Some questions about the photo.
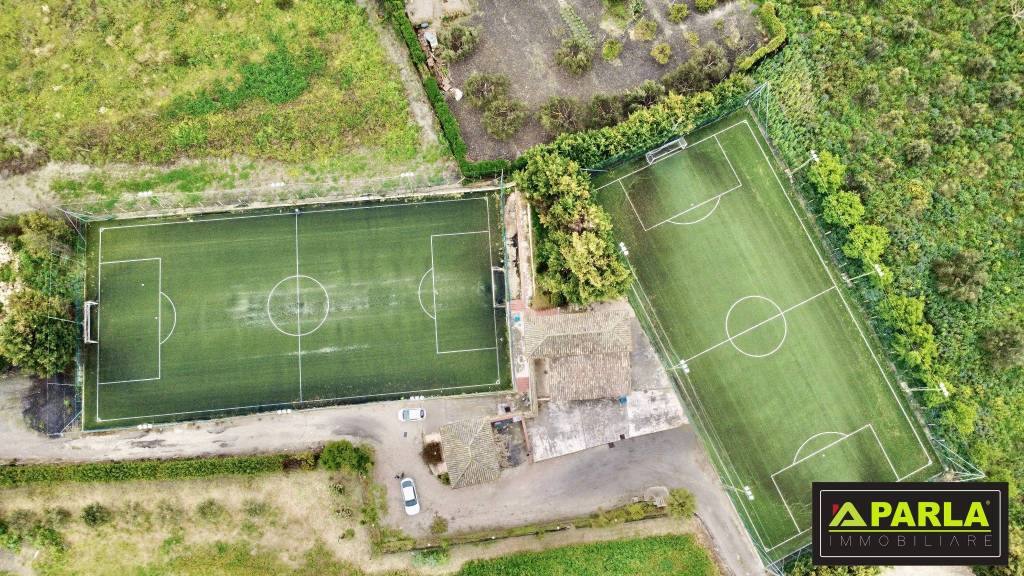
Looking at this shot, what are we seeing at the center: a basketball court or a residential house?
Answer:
residential house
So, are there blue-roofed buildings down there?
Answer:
No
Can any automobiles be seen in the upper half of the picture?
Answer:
No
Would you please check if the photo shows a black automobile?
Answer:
No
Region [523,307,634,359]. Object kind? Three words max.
house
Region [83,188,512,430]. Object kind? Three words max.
soccer field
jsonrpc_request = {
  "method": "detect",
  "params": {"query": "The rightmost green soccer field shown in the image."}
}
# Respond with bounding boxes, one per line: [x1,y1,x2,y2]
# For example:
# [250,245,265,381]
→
[578,104,945,570]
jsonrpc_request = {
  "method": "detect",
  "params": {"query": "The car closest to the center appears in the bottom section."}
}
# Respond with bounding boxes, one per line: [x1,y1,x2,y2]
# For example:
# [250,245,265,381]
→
[398,406,427,423]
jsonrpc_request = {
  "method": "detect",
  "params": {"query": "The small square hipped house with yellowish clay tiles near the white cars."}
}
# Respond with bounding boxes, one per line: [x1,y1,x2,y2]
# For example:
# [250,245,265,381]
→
[439,415,501,490]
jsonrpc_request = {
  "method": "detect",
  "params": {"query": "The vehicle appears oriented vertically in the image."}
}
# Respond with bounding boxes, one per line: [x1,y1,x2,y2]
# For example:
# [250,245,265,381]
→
[399,477,420,517]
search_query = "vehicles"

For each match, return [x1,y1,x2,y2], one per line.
[399,477,420,517]
[398,406,427,423]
